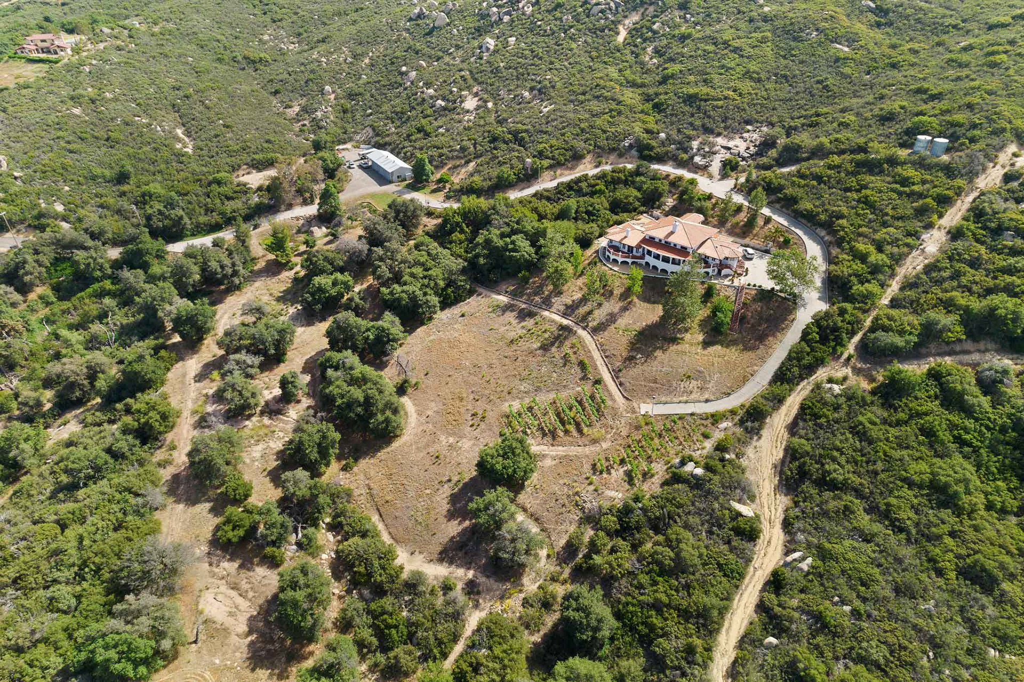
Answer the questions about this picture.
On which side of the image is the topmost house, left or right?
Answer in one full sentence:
You can find the topmost house on the left side of the picture.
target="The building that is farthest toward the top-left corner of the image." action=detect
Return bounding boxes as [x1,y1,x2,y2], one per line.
[8,32,74,58]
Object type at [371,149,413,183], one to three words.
shed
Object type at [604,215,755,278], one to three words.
house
